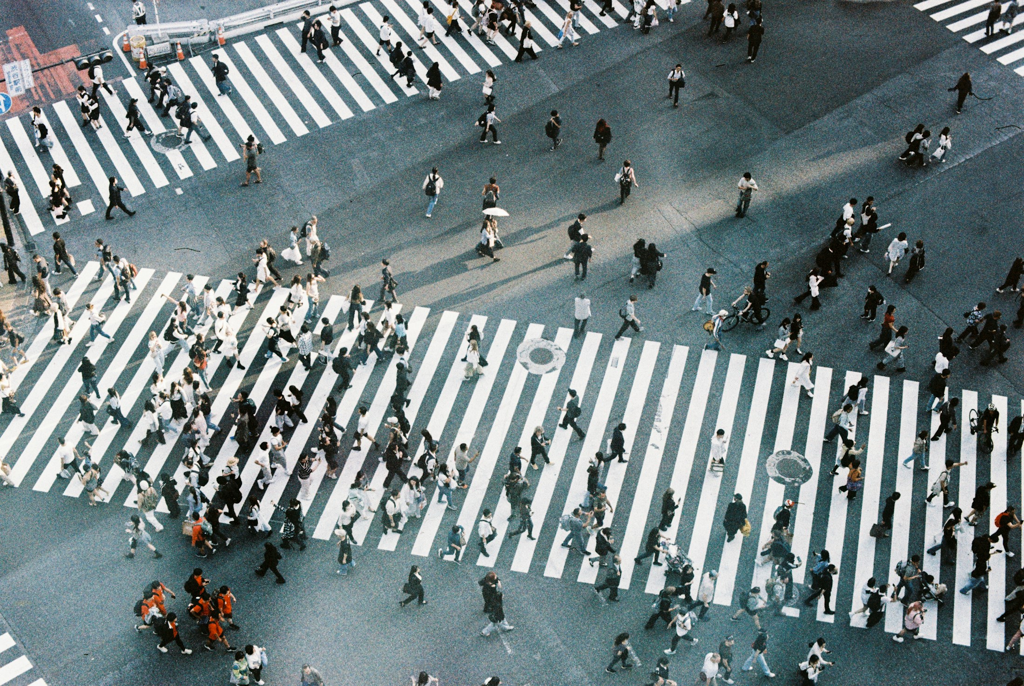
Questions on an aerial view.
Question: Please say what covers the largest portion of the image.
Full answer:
For the most part, this view shows paved ground.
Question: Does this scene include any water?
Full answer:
No, no water is visible.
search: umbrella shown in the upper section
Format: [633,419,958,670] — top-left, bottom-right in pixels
[480,207,512,221]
